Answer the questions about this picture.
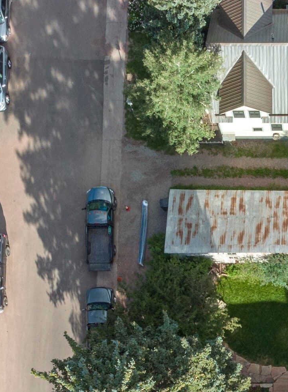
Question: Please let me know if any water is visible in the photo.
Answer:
No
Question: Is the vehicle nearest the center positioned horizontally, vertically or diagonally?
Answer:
vertically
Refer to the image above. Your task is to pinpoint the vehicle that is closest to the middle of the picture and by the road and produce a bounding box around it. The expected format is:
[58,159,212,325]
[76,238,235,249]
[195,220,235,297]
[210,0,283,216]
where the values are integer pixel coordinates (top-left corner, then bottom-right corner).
[84,188,118,271]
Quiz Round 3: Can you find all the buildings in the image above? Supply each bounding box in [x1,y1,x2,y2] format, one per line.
[206,0,288,139]
[165,189,288,257]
